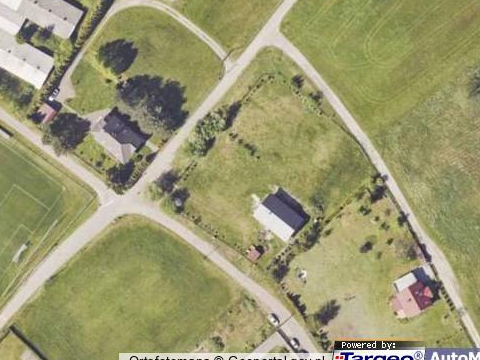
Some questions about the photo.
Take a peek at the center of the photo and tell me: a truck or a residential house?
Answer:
residential house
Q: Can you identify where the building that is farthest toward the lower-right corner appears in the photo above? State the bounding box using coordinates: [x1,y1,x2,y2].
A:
[396,282,435,318]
